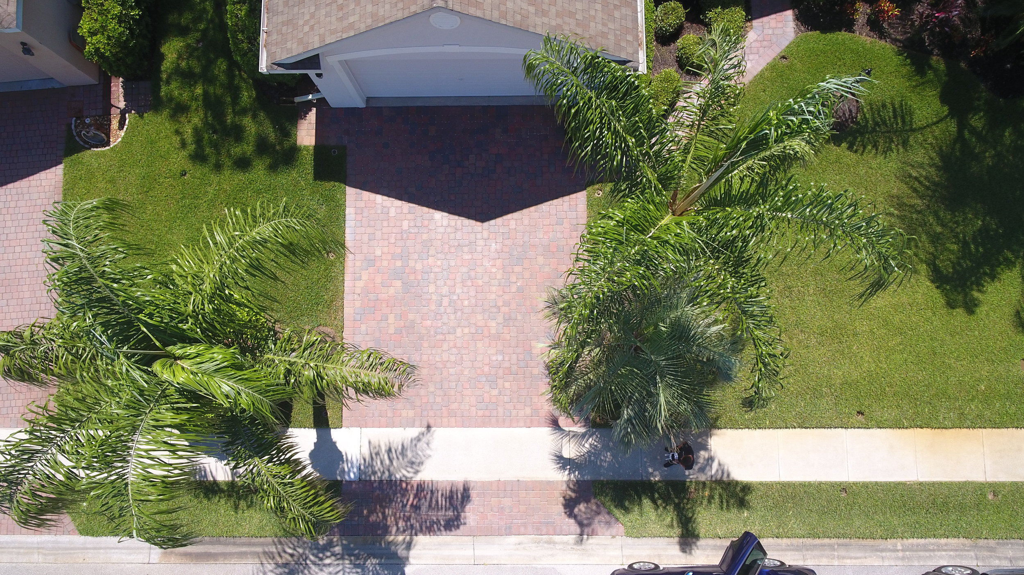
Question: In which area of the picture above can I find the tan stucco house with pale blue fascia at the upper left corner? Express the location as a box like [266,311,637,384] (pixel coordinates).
[0,0,99,89]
